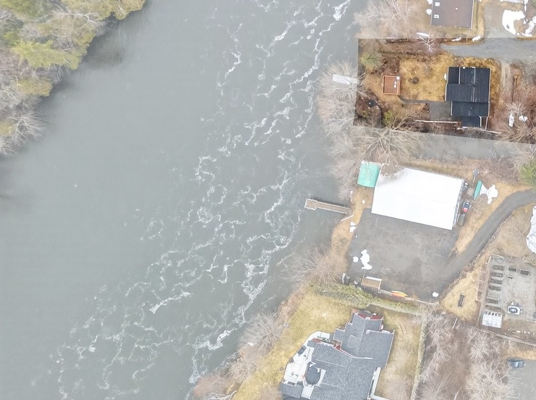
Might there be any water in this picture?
Yes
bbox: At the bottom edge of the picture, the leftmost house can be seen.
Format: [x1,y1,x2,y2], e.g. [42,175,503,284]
[280,309,397,400]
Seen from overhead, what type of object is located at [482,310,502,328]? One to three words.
greenhouse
